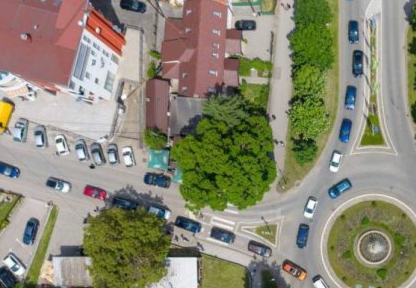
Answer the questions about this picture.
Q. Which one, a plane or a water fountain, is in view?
water fountain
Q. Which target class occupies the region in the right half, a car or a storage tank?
car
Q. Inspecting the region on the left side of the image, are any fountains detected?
No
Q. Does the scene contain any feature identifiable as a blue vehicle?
Yes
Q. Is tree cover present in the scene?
Yes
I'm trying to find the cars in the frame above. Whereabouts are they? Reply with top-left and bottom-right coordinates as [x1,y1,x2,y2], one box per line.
[2,253,26,272]
[338,120,351,143]
[173,216,200,232]
[304,195,317,218]
[282,260,307,278]
[147,204,171,219]
[246,240,273,256]
[105,143,120,166]
[344,84,357,110]
[145,173,170,187]
[33,126,49,149]
[211,228,235,242]
[234,18,259,31]
[12,119,28,143]
[352,50,363,76]
[46,178,71,192]
[55,134,70,157]
[347,21,358,44]
[112,196,139,210]
[329,150,342,173]
[313,275,329,288]
[75,139,90,162]
[329,180,352,197]
[297,222,309,248]
[122,146,136,166]
[23,218,40,243]
[0,263,15,277]
[0,163,20,177]
[83,186,108,199]
[90,143,106,166]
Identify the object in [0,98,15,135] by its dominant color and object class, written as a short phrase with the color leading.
yellow vehicle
